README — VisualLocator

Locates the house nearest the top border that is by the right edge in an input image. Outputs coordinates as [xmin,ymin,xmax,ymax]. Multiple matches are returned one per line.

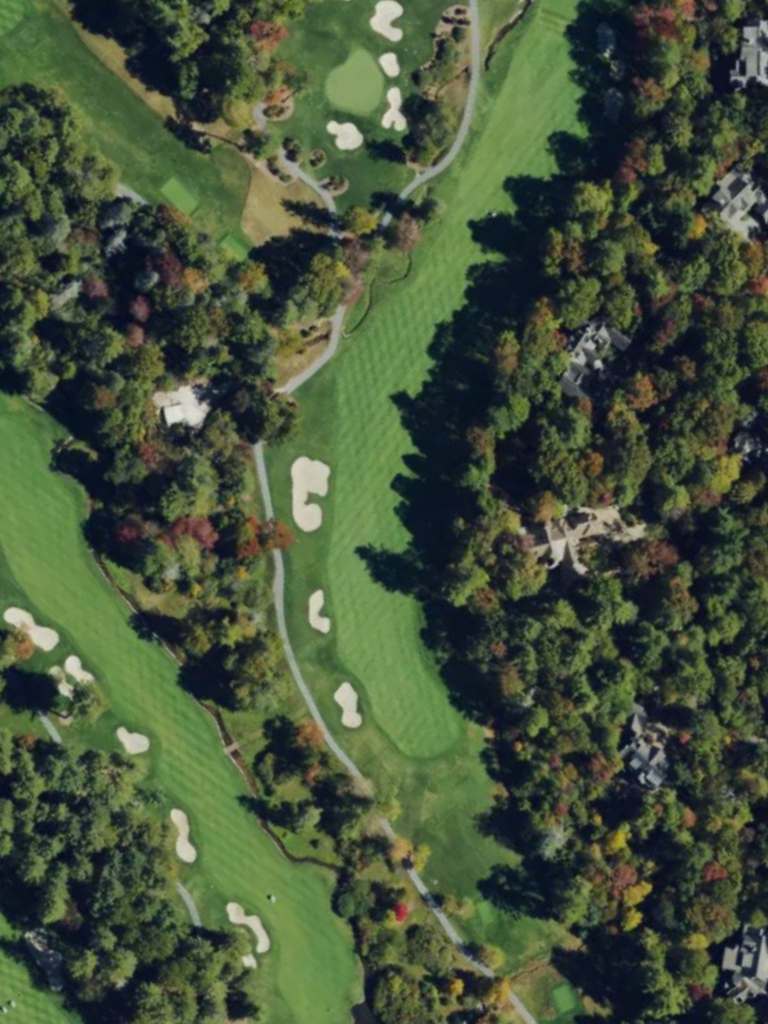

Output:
[736,17,768,85]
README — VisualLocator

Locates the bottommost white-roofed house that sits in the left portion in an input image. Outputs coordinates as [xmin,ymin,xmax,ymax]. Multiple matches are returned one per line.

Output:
[155,383,209,429]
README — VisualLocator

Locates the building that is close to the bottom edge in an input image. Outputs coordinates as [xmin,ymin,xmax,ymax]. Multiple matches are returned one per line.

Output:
[720,930,768,1006]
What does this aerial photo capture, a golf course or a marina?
golf course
